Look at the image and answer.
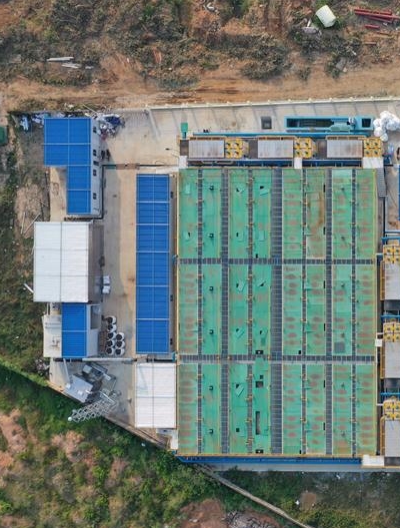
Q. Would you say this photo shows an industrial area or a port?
industrial area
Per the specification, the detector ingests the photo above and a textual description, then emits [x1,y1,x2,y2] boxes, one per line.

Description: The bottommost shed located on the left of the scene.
[135,363,179,429]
